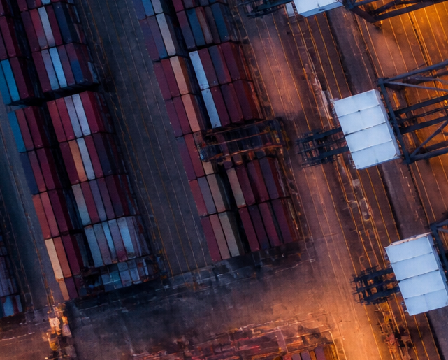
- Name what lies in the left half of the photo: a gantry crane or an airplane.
gantry crane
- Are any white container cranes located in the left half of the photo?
No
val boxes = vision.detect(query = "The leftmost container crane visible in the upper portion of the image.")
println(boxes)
[198,108,307,169]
